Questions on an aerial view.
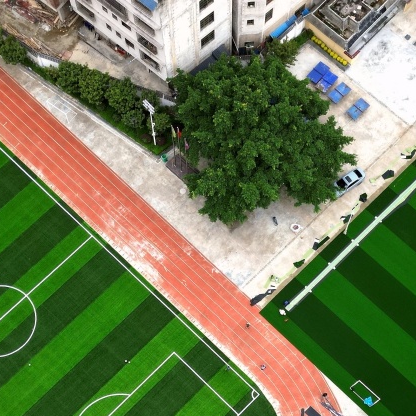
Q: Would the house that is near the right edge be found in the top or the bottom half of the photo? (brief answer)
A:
top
